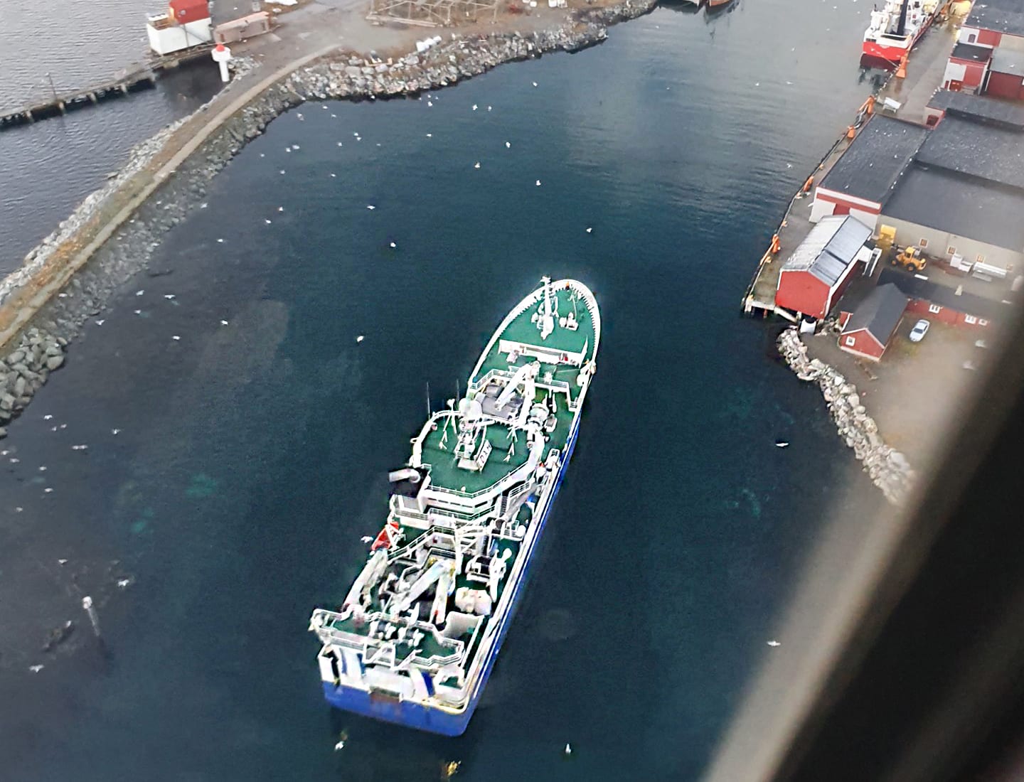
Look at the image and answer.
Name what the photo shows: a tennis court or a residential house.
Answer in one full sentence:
This aerial view contains a residential house.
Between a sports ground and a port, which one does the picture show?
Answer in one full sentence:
The picture captures a port.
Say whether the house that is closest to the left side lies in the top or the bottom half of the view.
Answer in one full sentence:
The house that is closest to the left side is in the top half of the image.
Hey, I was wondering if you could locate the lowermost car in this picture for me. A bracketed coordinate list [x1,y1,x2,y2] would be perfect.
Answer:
[907,318,933,340]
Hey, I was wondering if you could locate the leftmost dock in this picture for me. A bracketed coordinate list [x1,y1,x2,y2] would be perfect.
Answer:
[0,65,153,130]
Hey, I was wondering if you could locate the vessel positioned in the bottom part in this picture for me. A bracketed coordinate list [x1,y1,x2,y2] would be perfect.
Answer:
[308,267,597,740]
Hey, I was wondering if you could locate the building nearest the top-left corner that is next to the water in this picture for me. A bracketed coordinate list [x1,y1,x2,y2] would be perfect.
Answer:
[135,0,213,55]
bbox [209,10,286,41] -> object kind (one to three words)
shed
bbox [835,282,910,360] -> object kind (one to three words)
house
